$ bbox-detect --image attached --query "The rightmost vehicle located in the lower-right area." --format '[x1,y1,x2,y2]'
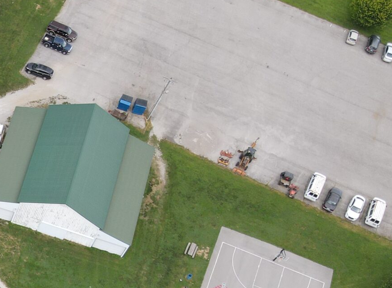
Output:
[363,198,386,227]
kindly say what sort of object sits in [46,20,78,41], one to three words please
truck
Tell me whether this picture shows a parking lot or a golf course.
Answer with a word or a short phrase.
parking lot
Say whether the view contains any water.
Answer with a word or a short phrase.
No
